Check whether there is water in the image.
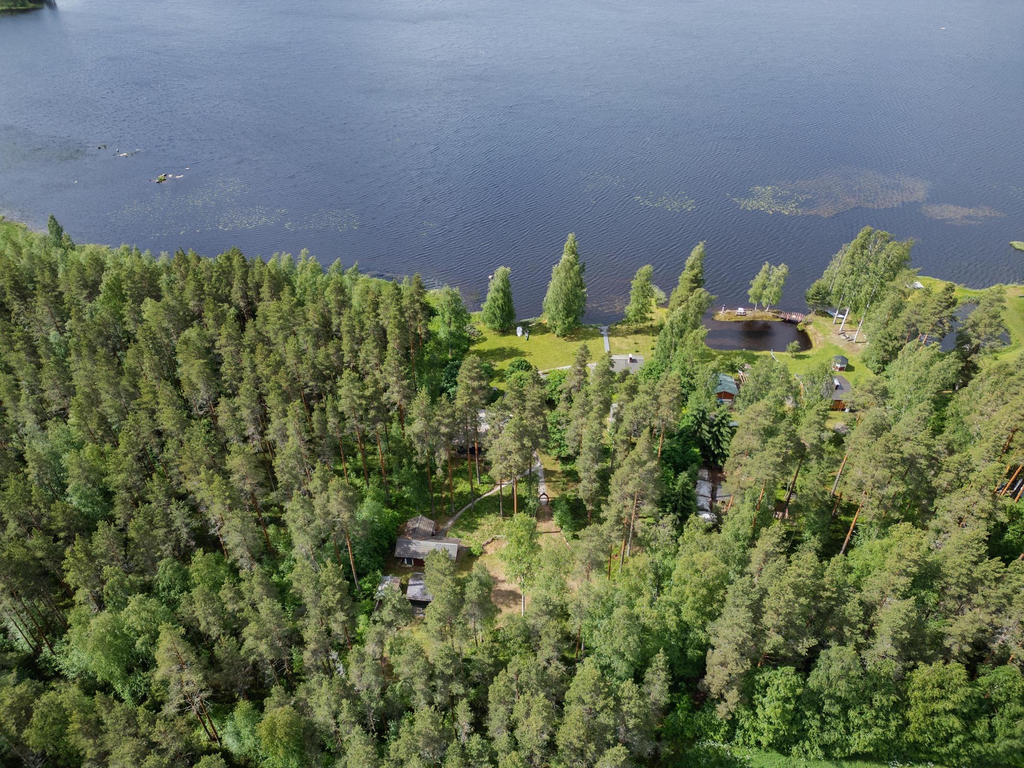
Yes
